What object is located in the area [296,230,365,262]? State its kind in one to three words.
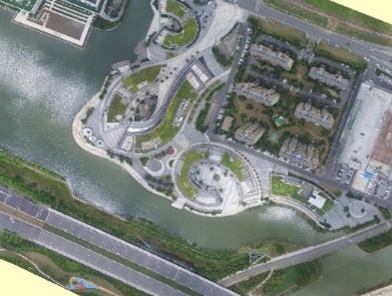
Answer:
bridge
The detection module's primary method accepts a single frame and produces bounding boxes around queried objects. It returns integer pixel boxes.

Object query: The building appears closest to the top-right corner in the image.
[310,67,350,91]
